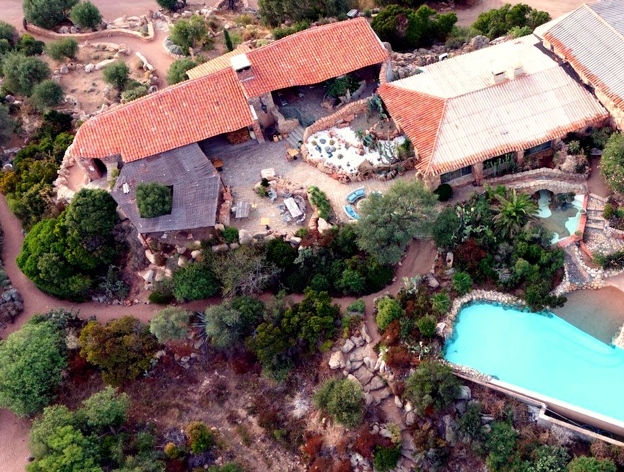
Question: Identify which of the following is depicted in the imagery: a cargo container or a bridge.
bridge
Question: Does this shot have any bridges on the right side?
Yes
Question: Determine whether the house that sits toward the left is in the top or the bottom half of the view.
top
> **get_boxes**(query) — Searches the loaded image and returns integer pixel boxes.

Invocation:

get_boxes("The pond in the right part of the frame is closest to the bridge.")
[536,193,594,259]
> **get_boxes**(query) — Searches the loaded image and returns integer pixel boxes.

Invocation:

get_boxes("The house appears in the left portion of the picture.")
[71,16,390,177]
